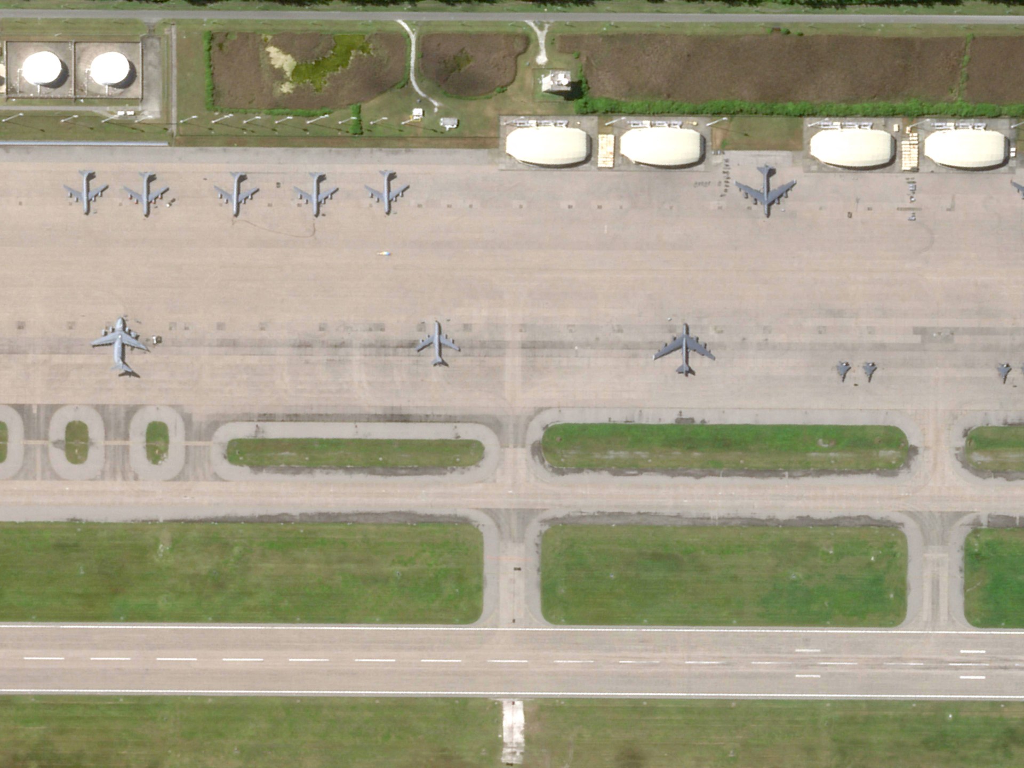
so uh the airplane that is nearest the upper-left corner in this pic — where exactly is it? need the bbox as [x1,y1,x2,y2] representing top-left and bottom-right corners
[64,168,109,214]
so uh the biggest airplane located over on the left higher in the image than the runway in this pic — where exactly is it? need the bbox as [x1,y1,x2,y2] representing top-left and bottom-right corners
[91,317,148,373]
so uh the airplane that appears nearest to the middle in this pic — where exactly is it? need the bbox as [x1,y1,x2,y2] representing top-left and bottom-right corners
[416,321,460,365]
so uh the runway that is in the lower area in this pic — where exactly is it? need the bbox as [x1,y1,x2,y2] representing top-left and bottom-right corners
[0,622,1024,701]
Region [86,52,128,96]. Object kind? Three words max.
storage tank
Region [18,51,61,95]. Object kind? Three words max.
storage tank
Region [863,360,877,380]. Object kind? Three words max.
airplane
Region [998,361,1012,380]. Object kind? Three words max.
airplane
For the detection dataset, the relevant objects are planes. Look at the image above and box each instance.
[91,317,148,373]
[214,170,258,217]
[837,360,851,380]
[365,169,409,215]
[294,171,338,216]
[863,360,877,380]
[416,321,460,365]
[654,323,716,373]
[64,168,109,214]
[124,170,169,216]
[736,164,797,215]
[998,361,1012,380]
